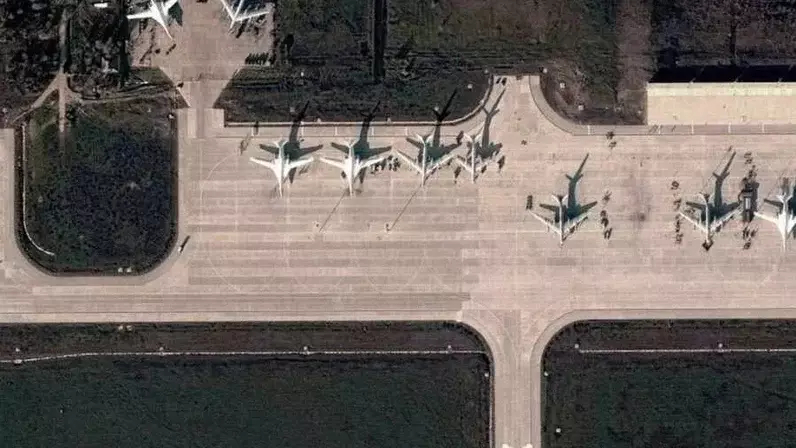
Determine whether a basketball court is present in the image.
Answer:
No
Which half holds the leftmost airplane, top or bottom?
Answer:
top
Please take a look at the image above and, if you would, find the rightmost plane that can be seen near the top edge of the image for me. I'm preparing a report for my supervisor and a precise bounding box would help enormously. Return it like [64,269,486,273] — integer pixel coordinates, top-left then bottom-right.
[220,0,270,30]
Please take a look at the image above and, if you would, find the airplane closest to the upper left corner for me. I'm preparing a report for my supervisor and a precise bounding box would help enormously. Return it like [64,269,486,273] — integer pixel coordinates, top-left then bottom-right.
[125,0,173,40]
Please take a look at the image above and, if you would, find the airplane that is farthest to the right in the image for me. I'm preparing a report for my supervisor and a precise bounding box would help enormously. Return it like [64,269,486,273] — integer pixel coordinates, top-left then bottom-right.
[756,187,796,247]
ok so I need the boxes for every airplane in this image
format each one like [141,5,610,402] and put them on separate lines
[220,0,270,30]
[125,0,173,40]
[322,139,385,200]
[756,187,796,247]
[396,128,453,182]
[252,139,315,201]
[444,124,501,180]
[680,188,738,241]
[533,186,591,238]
